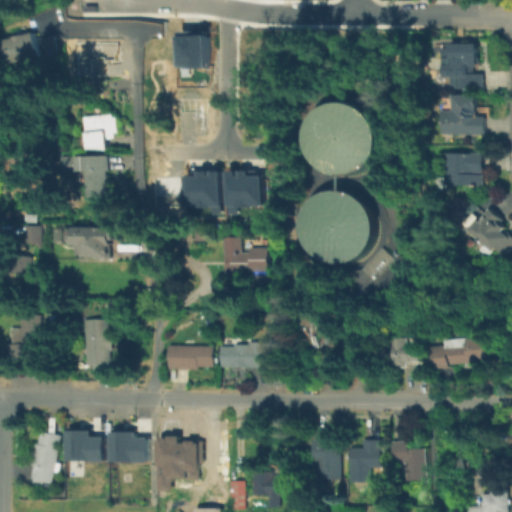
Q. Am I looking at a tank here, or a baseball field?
tank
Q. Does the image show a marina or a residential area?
residential area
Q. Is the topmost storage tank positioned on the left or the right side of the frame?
right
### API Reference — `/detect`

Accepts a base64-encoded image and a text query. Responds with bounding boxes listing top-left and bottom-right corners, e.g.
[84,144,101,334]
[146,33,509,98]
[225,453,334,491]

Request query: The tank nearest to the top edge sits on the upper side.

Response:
[300,102,373,175]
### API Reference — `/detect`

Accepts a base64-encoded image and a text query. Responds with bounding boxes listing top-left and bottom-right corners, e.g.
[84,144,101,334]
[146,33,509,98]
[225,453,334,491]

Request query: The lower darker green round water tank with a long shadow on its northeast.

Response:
[296,190,370,265]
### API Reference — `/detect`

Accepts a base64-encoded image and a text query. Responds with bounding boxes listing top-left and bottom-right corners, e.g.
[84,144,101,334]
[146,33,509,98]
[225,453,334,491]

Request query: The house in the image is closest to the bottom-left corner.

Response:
[32,433,60,485]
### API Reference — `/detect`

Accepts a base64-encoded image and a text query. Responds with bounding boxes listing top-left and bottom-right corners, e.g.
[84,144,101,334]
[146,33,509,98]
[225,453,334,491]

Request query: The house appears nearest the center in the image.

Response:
[224,238,267,272]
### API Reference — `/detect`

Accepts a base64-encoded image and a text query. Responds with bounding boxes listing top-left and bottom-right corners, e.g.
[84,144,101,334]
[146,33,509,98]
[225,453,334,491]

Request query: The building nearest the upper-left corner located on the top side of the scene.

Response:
[0,33,32,62]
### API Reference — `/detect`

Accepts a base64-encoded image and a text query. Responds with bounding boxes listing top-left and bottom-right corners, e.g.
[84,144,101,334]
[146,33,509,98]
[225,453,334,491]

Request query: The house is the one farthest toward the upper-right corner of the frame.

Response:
[442,42,486,90]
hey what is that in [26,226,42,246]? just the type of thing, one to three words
shed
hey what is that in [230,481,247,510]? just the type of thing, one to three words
shed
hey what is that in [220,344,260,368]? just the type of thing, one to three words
house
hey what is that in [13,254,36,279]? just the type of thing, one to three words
house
